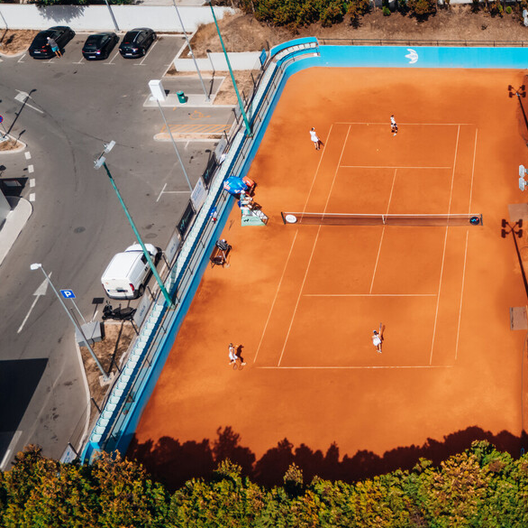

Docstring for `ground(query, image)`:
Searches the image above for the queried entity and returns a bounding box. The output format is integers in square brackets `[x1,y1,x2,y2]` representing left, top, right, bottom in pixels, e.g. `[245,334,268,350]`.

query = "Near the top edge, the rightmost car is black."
[117,26,156,55]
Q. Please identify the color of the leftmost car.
black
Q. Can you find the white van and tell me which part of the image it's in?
left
